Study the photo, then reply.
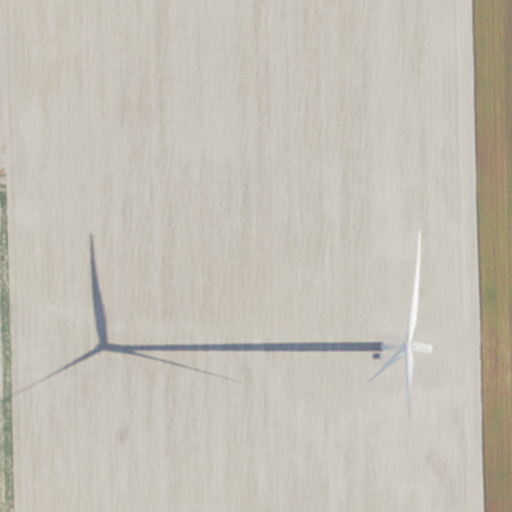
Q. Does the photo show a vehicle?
No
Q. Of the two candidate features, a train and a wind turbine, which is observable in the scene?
wind turbine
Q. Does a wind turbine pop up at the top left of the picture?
No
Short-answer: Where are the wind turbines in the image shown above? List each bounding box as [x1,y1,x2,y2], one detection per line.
[370,230,431,420]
